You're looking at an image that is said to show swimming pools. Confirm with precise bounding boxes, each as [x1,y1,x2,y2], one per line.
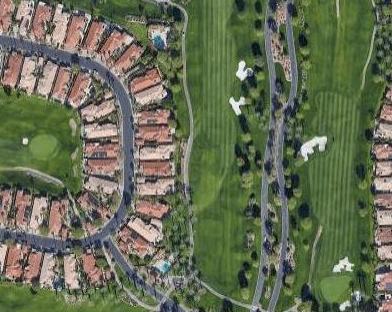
[151,27,169,54]
[155,259,172,274]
